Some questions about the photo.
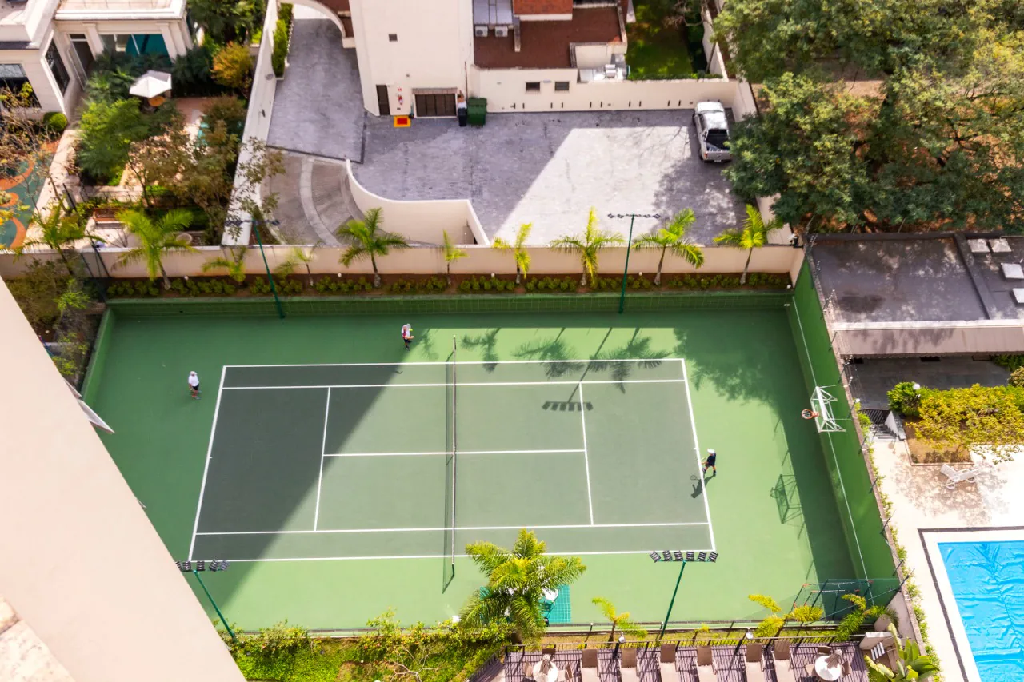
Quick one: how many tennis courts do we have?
1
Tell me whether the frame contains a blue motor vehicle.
No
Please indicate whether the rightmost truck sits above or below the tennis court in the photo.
above it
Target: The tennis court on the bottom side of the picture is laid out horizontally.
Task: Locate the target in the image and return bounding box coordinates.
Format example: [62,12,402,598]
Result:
[85,306,858,643]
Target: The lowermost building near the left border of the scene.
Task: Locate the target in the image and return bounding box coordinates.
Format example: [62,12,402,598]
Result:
[0,260,234,682]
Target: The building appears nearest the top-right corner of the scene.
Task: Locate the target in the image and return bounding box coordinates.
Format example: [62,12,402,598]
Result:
[806,227,1024,353]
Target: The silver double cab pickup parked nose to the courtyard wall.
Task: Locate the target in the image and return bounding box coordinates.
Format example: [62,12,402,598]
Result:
[692,102,737,164]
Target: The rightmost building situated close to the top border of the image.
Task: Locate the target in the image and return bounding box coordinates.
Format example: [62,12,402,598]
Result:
[473,0,625,114]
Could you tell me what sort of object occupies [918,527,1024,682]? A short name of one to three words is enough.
swimming pool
